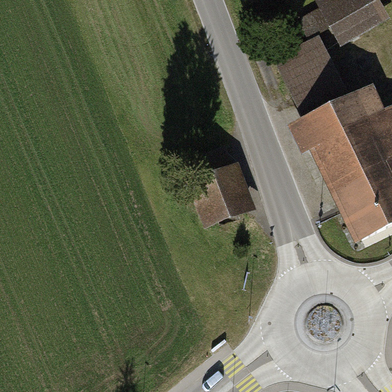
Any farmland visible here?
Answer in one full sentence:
Yes, farmland can be seen from above here.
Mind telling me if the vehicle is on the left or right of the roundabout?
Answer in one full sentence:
The vehicle is to the left of the roundabout.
